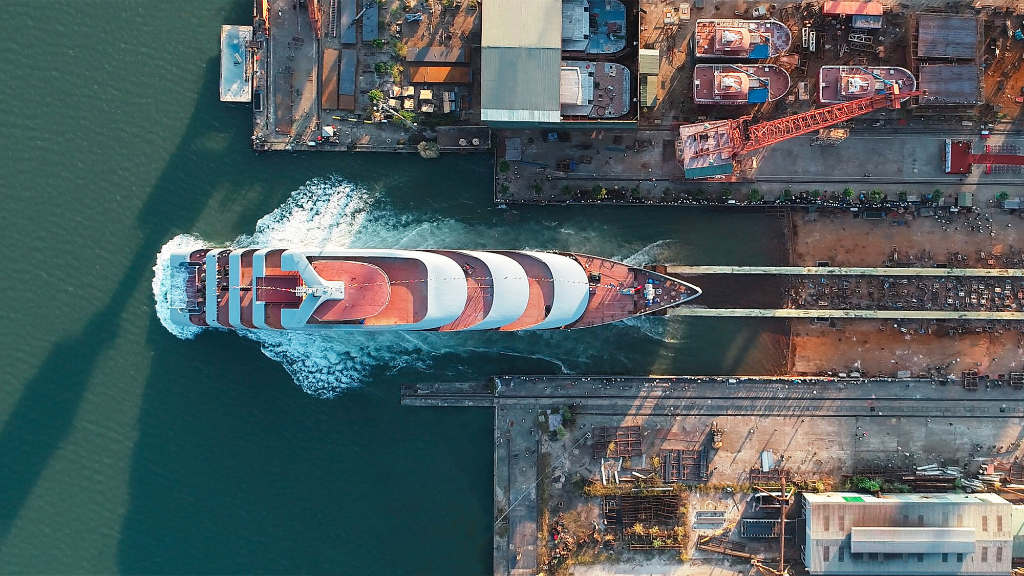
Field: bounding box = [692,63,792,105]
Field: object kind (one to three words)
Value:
boat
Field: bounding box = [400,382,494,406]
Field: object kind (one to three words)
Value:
pier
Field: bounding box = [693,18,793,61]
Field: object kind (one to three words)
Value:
boat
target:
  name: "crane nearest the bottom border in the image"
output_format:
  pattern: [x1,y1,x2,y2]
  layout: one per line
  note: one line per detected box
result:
[751,475,795,576]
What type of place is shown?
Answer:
port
